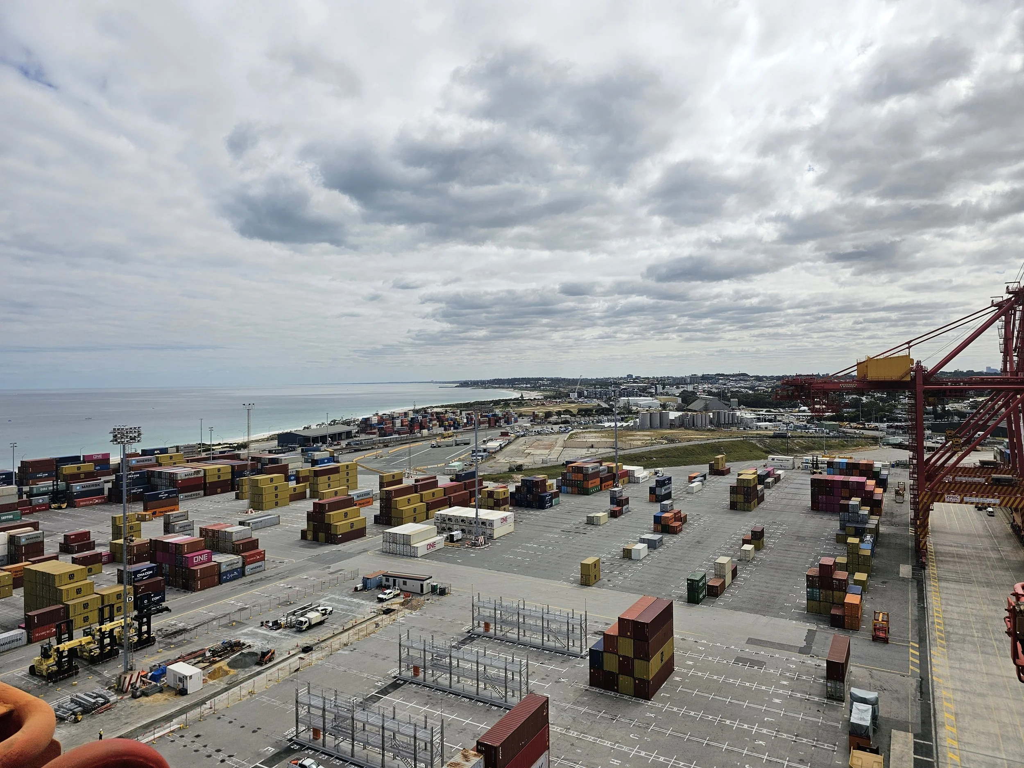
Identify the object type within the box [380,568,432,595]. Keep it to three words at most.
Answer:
building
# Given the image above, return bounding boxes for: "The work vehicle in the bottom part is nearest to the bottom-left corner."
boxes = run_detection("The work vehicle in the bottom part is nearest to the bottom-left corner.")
[41,618,94,679]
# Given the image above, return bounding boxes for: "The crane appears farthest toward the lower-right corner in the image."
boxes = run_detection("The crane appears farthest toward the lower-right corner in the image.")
[774,277,1024,570]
